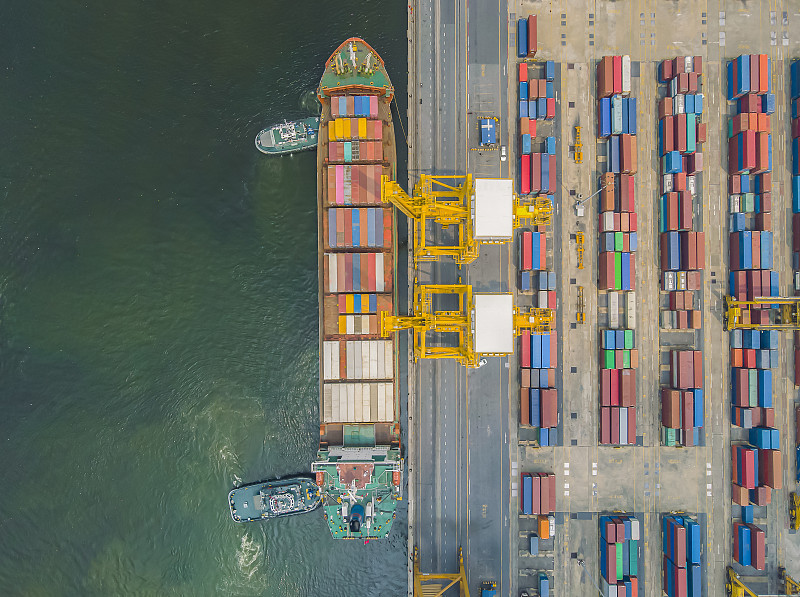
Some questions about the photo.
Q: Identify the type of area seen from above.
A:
port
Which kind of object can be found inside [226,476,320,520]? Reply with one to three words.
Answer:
boat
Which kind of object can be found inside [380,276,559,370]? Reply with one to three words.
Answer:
container crane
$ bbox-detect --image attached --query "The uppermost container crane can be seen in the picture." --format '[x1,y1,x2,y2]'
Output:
[380,173,558,273]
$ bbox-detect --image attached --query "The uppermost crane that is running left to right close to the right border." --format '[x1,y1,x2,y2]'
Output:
[725,295,800,332]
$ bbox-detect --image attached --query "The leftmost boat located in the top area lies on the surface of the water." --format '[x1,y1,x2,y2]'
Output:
[254,117,319,157]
